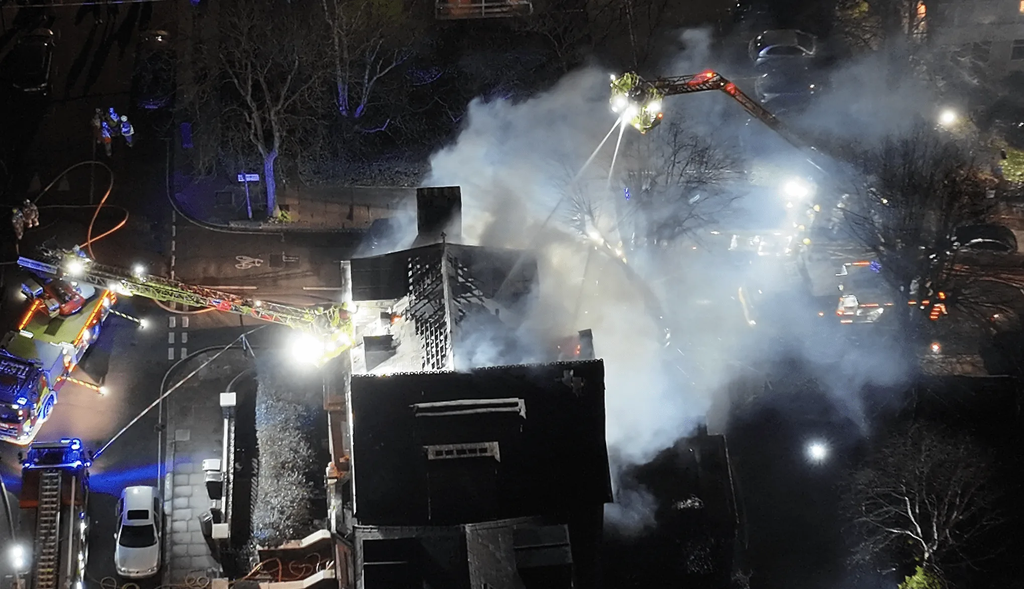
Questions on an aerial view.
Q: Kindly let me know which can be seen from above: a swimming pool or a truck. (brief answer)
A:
truck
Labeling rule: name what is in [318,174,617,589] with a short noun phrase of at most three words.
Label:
house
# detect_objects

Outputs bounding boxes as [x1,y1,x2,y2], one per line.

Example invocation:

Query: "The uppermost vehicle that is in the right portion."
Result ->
[745,30,820,69]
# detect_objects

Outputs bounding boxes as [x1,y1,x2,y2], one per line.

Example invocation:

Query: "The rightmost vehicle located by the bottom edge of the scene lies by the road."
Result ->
[108,484,169,582]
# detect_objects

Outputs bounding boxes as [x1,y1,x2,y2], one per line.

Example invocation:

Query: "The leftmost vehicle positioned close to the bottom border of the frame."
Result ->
[12,435,105,589]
